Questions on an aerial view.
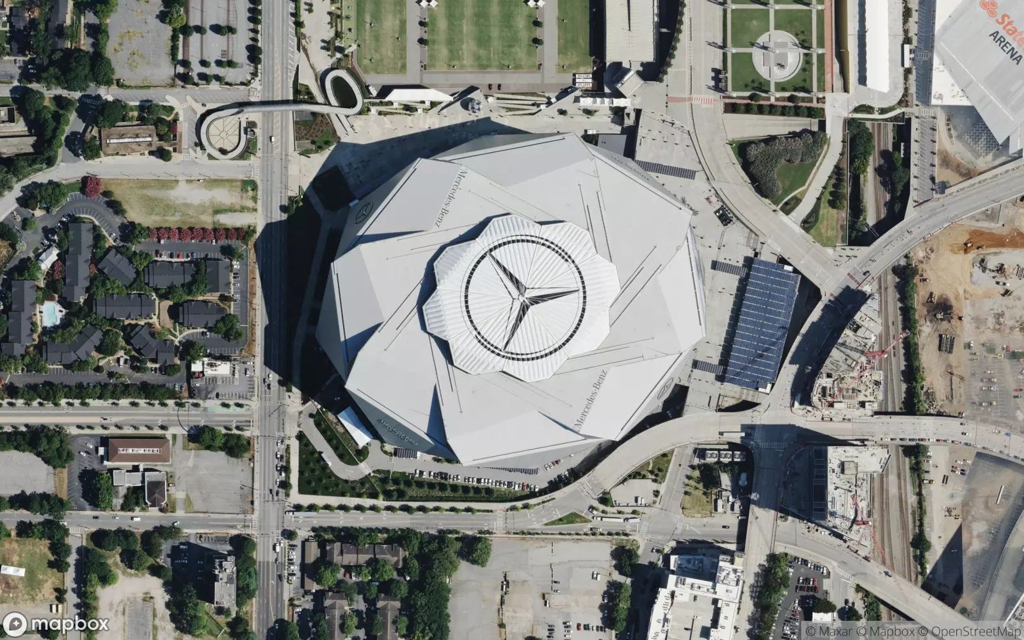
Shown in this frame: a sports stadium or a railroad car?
sports stadium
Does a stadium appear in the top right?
Yes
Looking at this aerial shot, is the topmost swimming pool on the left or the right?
left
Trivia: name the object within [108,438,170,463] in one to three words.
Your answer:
building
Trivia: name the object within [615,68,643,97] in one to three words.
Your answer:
building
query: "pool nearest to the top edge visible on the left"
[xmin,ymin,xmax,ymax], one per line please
[39,301,66,327]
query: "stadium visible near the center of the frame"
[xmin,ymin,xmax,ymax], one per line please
[315,133,705,471]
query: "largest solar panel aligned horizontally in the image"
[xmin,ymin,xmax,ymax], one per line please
[638,160,696,179]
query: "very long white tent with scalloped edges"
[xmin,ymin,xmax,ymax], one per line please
[864,0,888,93]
